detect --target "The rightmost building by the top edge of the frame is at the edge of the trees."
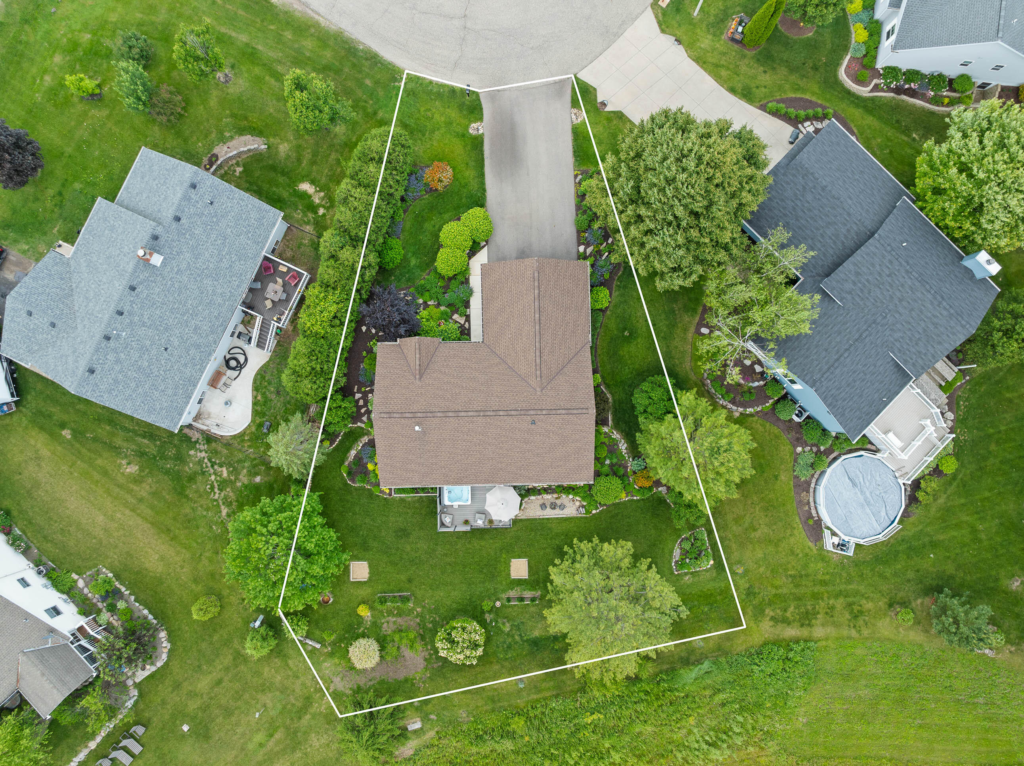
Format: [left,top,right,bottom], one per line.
[871,0,1024,83]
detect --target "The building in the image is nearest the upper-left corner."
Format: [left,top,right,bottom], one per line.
[0,145,291,435]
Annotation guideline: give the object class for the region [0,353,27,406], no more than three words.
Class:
camper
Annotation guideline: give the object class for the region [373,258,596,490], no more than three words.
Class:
house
